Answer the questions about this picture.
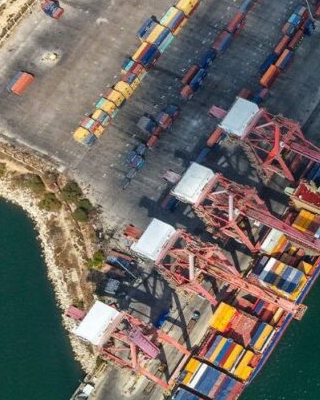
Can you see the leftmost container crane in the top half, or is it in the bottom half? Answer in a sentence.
The leftmost container crane is in the bottom half of the image.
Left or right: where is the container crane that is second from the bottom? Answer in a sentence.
The container crane that is second from the bottom sits on the right side.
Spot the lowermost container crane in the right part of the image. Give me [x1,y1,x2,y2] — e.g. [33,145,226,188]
[122,217,309,321]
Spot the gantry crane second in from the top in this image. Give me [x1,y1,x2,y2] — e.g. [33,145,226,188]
[163,160,320,253]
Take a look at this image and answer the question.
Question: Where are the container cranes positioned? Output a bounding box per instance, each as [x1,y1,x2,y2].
[163,160,320,253]
[63,299,193,389]
[209,95,320,189]
[122,217,309,321]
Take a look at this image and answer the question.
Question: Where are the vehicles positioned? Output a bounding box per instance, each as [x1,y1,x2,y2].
[185,311,200,333]
[138,382,154,399]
